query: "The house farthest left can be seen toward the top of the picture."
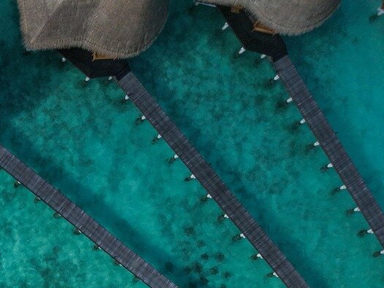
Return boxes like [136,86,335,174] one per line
[12,0,168,90]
